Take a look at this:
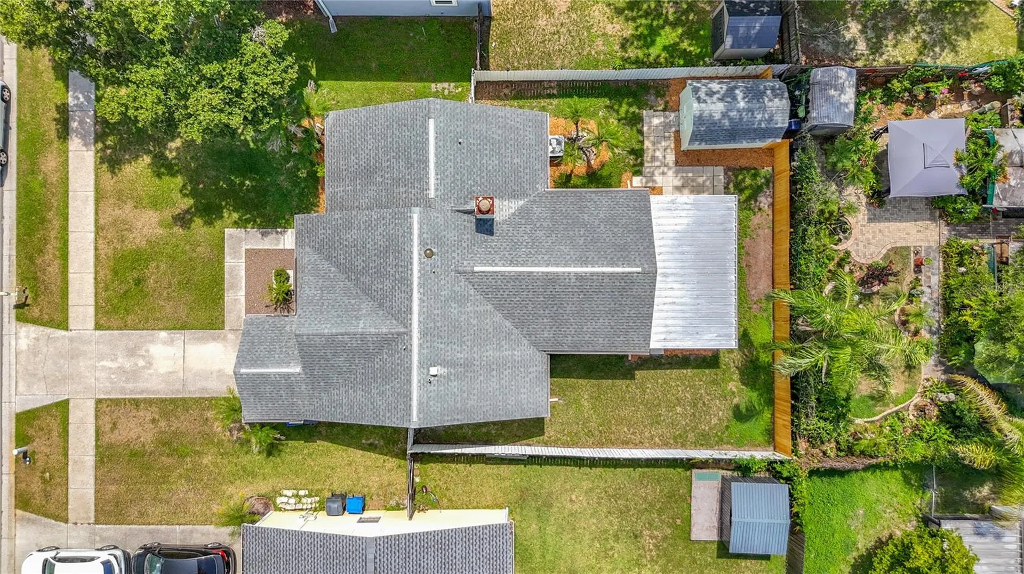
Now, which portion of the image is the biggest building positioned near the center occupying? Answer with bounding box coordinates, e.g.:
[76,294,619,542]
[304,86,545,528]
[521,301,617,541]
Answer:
[233,98,659,429]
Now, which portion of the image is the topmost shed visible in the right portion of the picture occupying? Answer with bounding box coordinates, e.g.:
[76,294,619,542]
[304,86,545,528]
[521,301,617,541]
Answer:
[715,0,782,58]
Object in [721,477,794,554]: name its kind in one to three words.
shed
